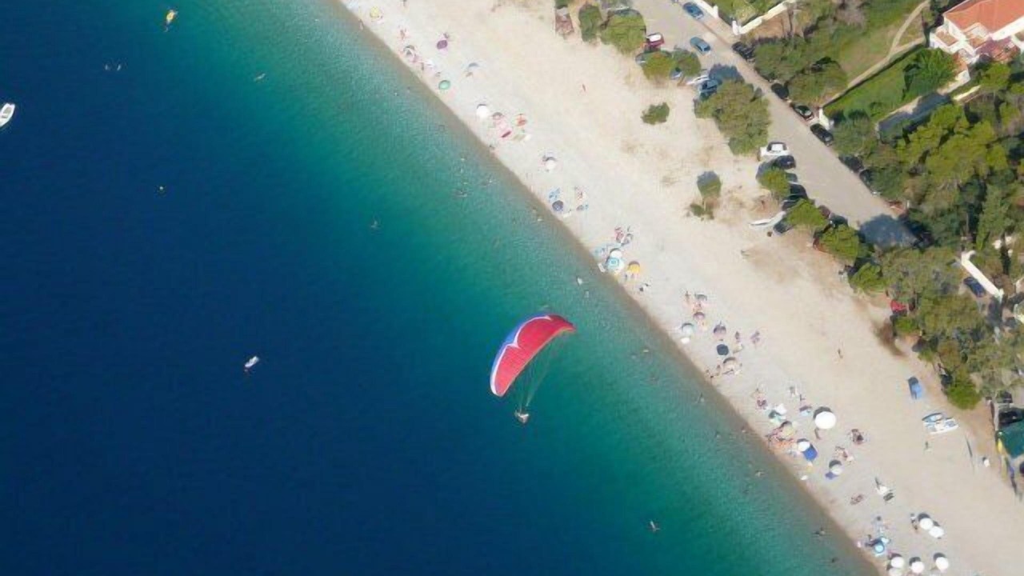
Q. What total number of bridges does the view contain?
zero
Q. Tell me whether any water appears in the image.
Yes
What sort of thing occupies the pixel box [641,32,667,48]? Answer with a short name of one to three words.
car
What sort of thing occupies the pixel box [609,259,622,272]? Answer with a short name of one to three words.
umbrella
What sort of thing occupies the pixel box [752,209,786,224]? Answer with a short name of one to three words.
boat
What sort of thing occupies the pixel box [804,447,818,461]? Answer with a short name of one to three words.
umbrella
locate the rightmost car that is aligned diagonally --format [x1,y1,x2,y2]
[963,271,989,298]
